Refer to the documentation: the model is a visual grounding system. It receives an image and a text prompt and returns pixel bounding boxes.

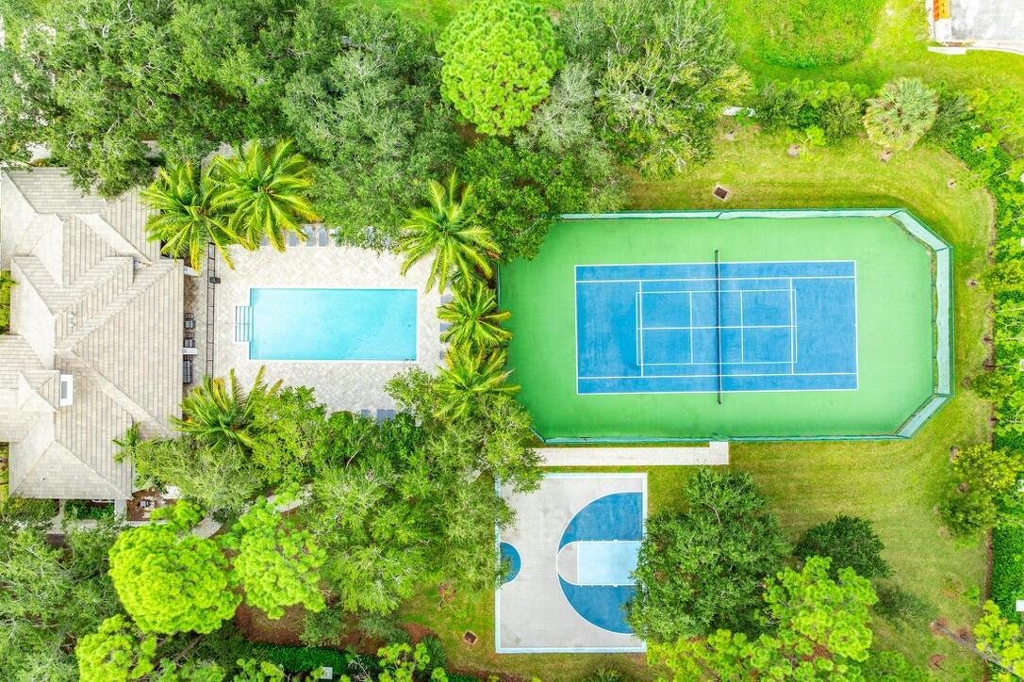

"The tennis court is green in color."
[499,217,931,437]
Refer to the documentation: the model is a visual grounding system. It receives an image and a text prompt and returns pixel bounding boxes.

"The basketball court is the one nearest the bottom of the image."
[496,473,647,654]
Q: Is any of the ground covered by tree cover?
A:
Yes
